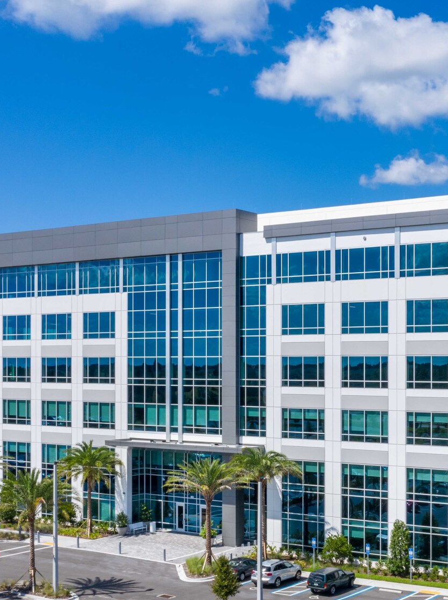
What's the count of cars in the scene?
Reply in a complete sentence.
In total, there are 3 cars in the scene.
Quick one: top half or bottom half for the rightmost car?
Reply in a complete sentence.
Seen from above, the rightmost car lies in the bottom half of the view.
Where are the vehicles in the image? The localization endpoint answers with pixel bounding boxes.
[251,559,304,587]
[305,566,355,595]
[237,562,257,582]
